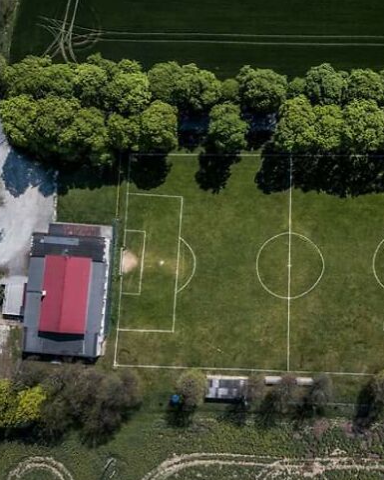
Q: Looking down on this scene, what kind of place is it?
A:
sports ground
